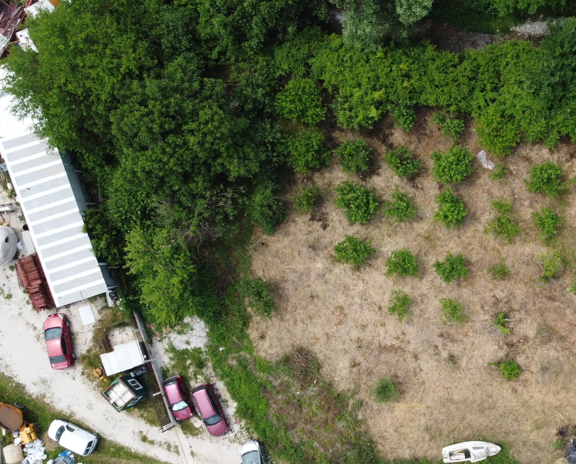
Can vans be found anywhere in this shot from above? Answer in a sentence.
Yes, the frame does contain a van.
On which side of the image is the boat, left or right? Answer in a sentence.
You can find the boat on the right side of the picture.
